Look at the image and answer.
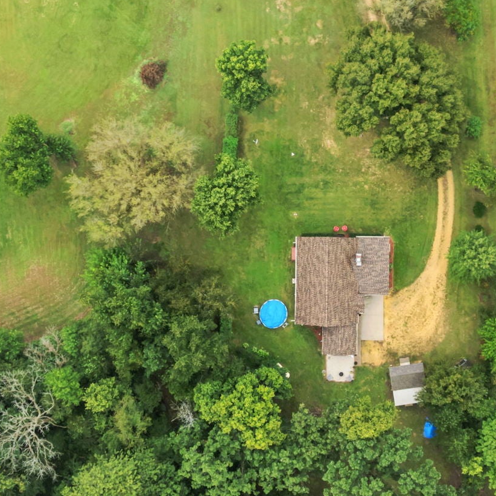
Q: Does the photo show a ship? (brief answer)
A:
No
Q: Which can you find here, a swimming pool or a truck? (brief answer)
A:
swimming pool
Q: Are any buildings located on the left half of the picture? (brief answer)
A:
No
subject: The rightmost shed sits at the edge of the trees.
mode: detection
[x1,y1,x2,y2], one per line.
[390,364,427,403]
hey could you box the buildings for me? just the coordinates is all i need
[294,238,391,356]
[390,364,427,403]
